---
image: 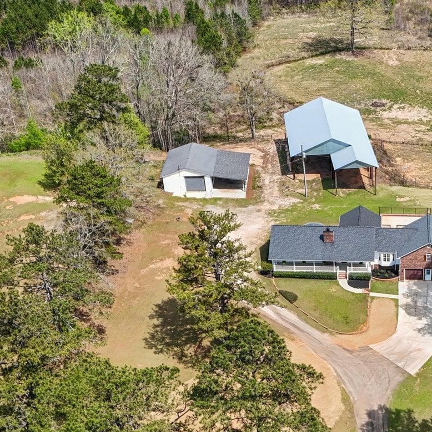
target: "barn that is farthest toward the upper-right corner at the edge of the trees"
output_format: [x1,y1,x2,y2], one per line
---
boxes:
[284,99,380,195]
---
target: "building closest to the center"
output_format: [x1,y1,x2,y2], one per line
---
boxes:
[155,142,263,198]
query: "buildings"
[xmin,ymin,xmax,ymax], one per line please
[284,99,380,195]
[155,142,263,198]
[269,207,432,282]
